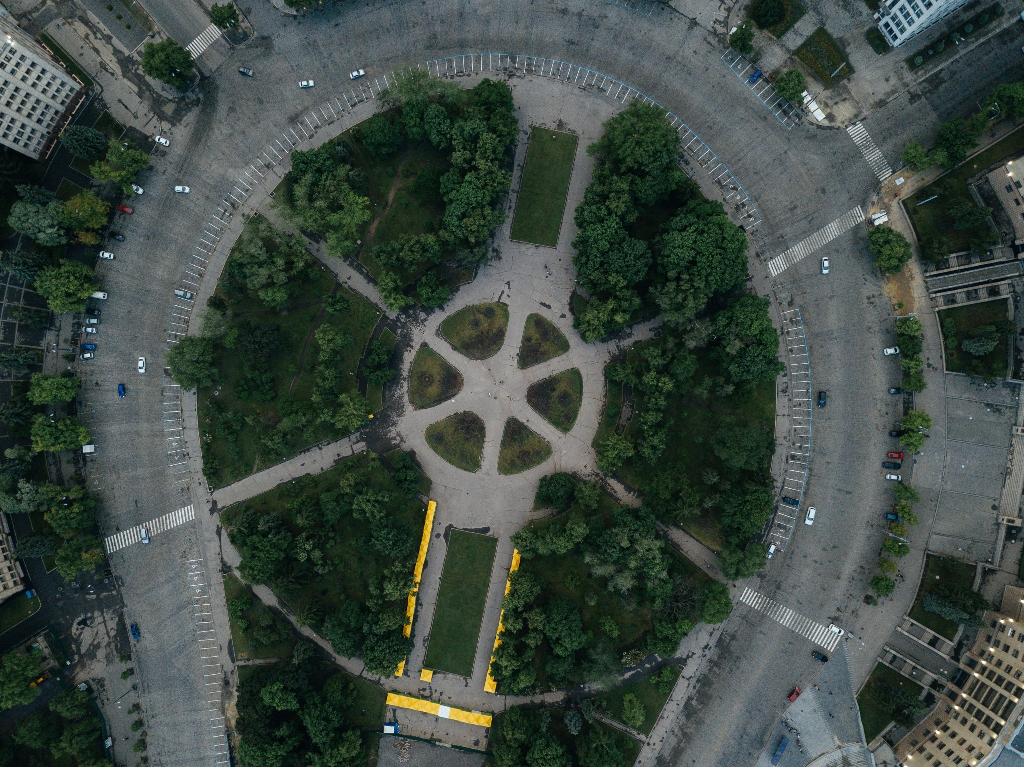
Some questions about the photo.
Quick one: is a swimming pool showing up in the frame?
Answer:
No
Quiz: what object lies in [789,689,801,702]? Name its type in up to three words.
vehicle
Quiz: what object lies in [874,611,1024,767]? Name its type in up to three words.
building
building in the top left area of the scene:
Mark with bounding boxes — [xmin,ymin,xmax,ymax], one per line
[0,26,91,165]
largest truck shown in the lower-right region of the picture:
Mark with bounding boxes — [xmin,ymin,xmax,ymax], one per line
[766,733,788,766]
